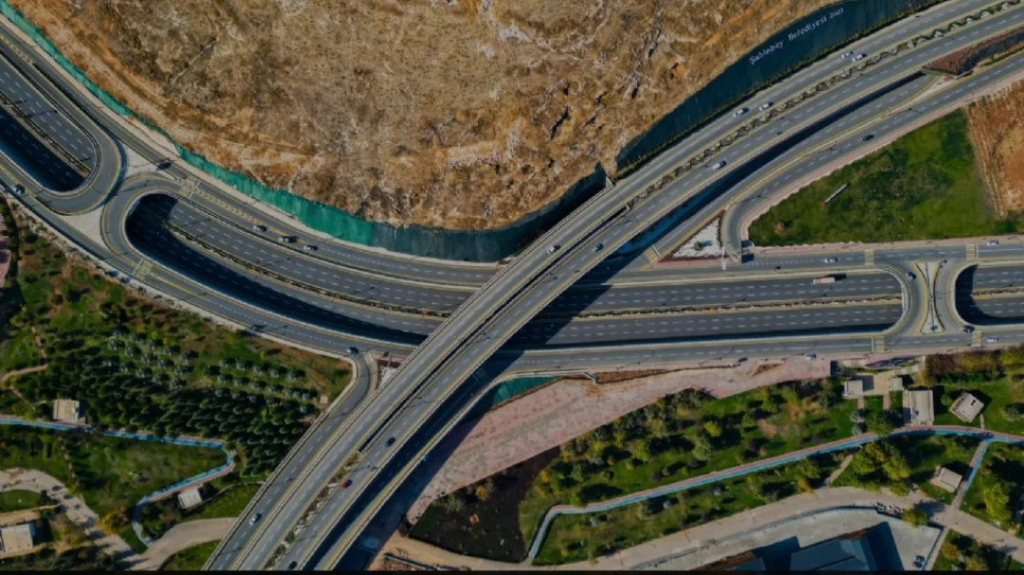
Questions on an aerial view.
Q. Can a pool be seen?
No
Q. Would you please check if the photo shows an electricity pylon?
No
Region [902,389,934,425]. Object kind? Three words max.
building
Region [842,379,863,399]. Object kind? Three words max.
building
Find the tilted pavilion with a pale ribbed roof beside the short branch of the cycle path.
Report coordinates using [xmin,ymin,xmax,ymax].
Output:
[930,465,961,493]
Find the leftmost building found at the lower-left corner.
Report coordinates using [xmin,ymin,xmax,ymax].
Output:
[0,521,40,552]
